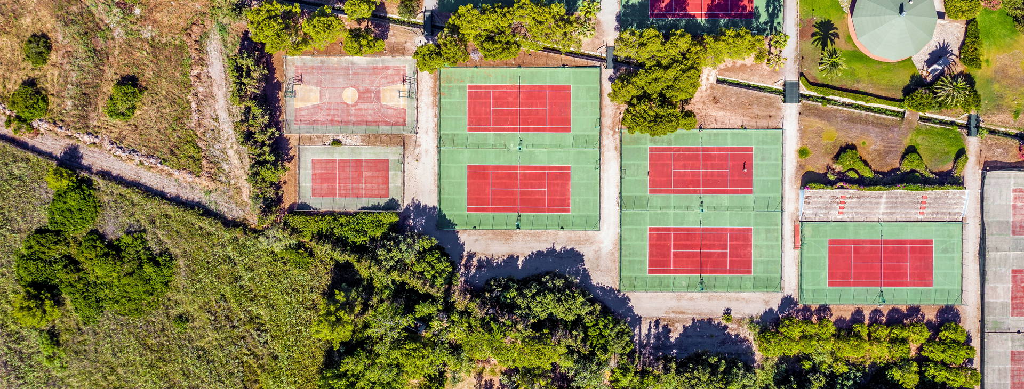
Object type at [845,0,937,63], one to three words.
building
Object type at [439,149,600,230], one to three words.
tennis court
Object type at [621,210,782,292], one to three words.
tennis court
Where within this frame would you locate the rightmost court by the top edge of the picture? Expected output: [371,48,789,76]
[621,0,784,36]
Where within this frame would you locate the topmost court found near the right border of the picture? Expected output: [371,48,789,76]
[982,170,1024,253]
